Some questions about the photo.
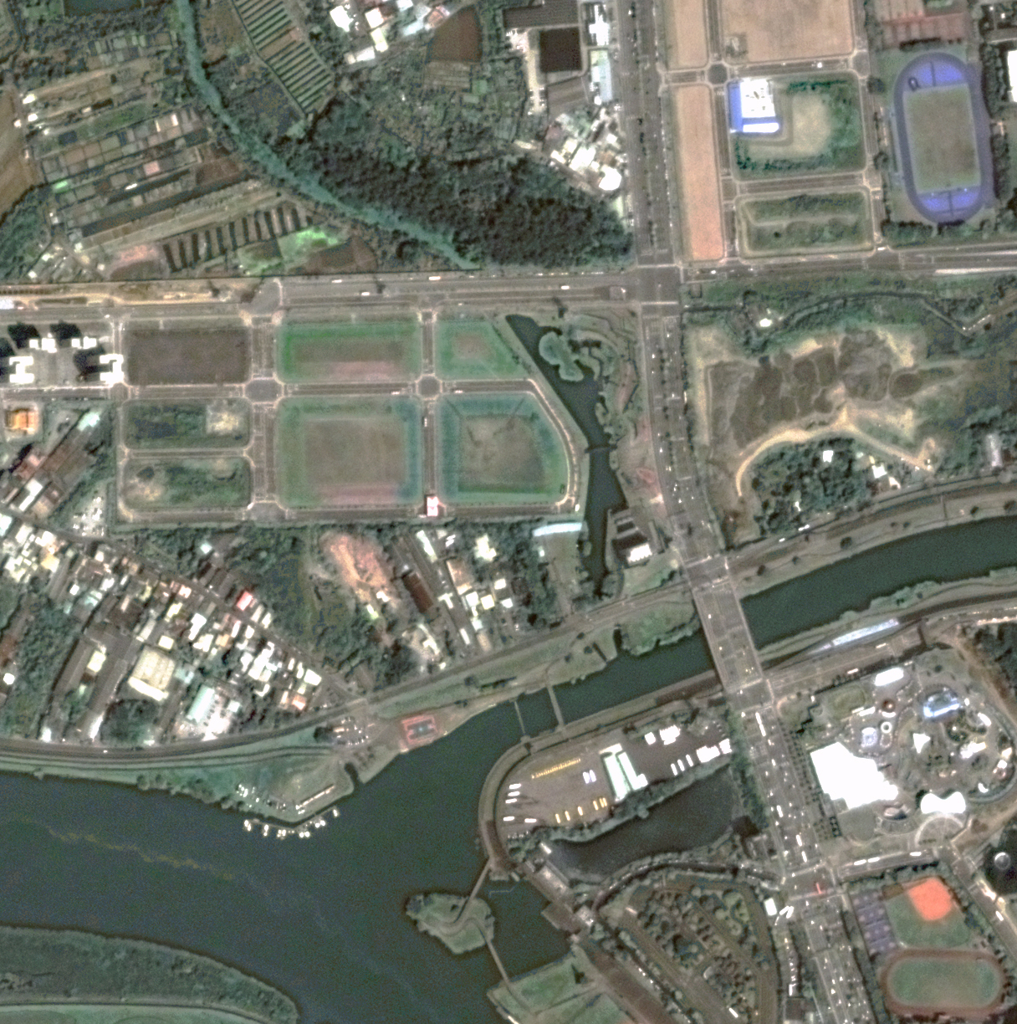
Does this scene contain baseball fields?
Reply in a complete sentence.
Yes, the picture does show a baseball field.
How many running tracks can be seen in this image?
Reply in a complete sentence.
The photo contains 2 running tracks.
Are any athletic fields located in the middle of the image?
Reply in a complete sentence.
No, there's no athletic field to be seen in the middle of the image.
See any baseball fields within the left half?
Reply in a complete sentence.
No, there is no baseball field within the left half.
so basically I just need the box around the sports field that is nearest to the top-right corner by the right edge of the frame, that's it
[893,53,993,223]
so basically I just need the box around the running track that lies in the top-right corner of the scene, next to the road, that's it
[893,53,993,223]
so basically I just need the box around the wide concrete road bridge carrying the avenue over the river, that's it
[694,577,767,690]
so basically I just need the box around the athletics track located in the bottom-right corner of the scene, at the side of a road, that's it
[880,948,1005,1015]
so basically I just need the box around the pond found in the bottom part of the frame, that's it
[545,765,736,882]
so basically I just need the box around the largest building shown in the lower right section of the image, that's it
[810,742,898,809]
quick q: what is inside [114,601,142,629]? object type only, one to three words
house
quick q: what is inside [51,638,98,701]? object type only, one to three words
building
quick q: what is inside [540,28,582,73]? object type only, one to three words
house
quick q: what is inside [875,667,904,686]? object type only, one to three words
building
